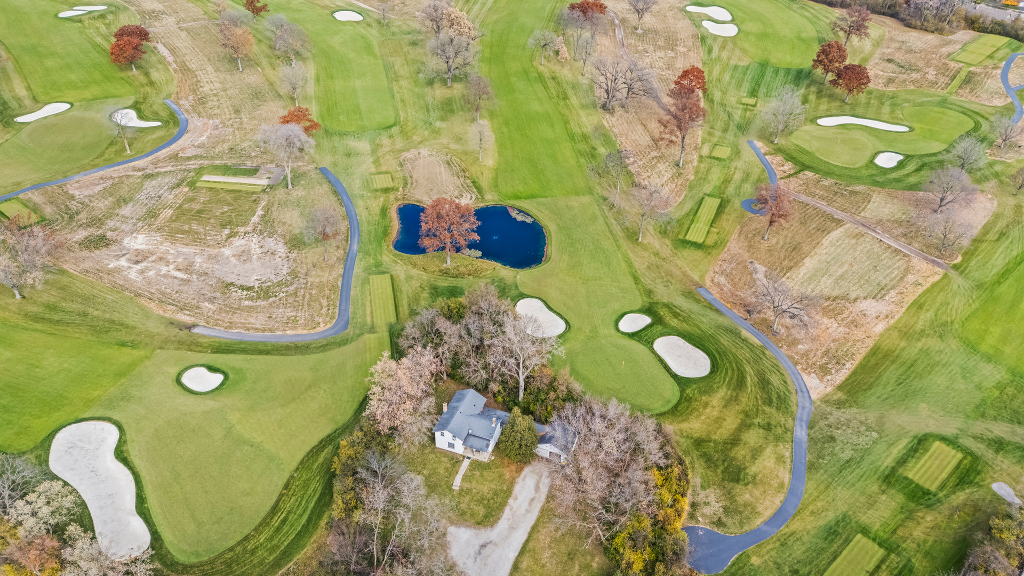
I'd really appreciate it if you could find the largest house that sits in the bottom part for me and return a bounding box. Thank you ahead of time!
[432,390,545,463]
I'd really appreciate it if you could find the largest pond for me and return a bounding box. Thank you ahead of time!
[392,203,547,270]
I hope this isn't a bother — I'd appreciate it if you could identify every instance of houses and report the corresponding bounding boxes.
[960,4,1021,24]
[432,390,545,463]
